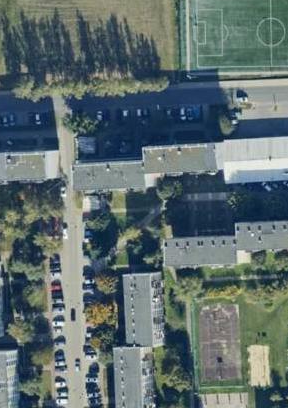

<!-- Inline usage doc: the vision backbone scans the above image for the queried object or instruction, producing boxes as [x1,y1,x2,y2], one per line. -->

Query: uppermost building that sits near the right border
[223,137,288,183]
